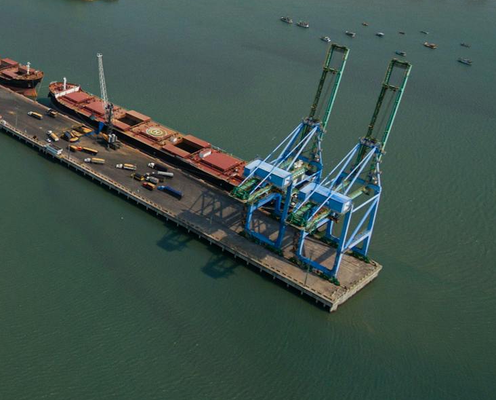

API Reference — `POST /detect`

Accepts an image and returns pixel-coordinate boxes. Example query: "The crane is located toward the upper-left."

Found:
[96,53,125,151]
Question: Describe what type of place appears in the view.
port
